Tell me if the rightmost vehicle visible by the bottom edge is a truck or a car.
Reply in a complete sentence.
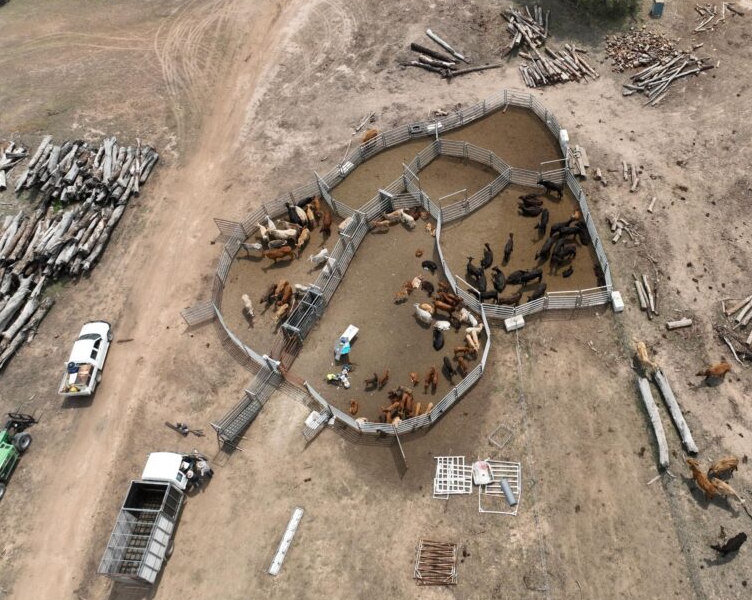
It looks like the rightmost vehicle visible by the bottom edge is a truck.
